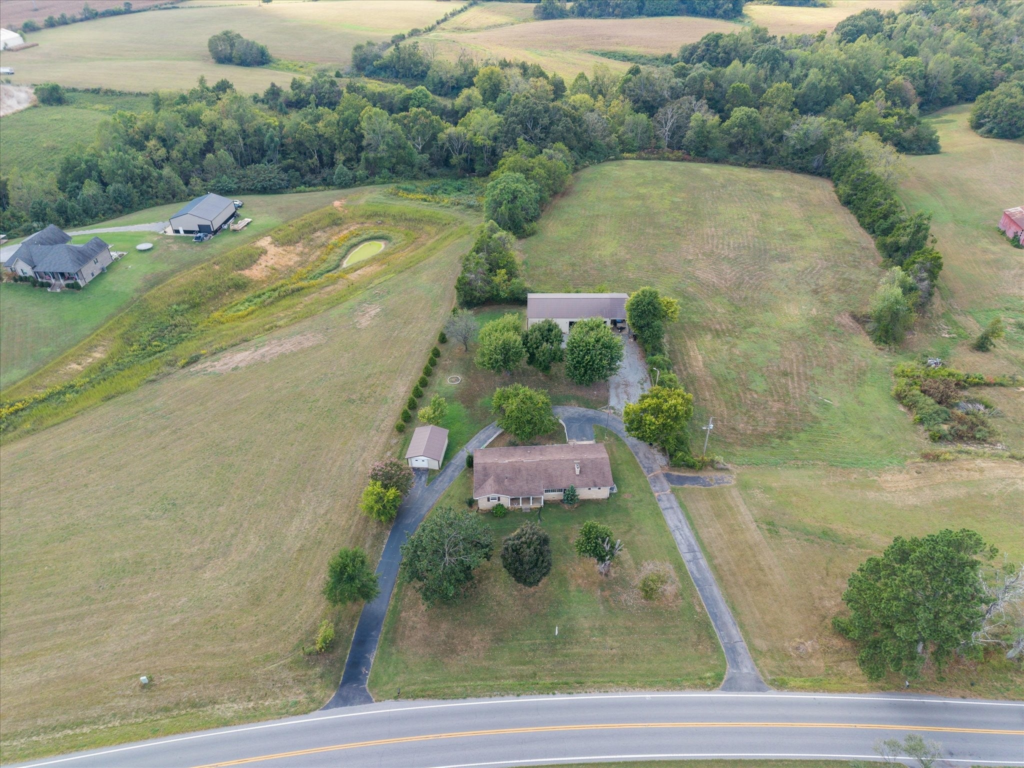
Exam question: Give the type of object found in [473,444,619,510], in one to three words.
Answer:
house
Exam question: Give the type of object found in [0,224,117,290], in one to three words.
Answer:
house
